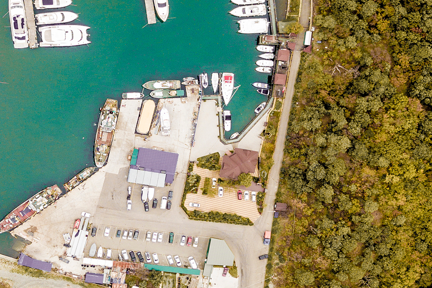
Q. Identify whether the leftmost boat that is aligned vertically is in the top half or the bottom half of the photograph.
top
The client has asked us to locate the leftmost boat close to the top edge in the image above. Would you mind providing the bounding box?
[9,0,29,51]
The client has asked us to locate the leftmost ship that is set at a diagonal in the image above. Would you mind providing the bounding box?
[0,185,61,230]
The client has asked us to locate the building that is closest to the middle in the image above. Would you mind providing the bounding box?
[220,148,259,178]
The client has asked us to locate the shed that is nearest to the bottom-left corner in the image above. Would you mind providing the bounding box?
[19,253,52,272]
